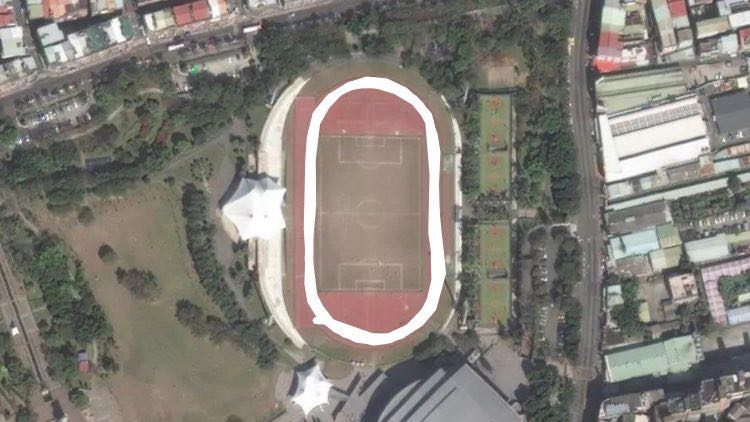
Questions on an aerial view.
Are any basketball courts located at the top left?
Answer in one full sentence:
No, there's no basketball court to be seen at the top left.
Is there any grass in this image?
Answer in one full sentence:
Yes, the picture does contain grass.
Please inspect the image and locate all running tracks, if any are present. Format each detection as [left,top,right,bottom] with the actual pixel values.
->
[283,62,456,366]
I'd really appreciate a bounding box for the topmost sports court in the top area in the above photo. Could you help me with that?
[489,66,515,87]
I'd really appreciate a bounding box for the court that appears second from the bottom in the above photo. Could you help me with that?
[479,224,510,272]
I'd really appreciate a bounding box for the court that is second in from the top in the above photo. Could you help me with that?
[480,95,510,146]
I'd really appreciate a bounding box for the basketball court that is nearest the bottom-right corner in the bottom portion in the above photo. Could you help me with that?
[479,276,510,328]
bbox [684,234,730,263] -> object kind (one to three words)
building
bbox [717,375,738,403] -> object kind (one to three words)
building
